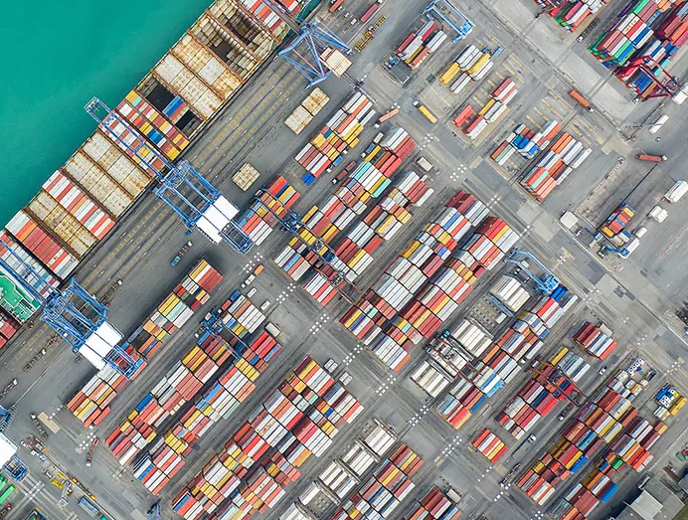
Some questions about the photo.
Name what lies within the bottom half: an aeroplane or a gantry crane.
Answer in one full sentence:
You can see a gantry crane within the bottom half.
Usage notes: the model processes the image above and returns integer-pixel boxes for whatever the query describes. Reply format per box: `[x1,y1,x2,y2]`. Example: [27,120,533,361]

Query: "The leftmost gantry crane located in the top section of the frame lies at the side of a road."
[83,95,255,256]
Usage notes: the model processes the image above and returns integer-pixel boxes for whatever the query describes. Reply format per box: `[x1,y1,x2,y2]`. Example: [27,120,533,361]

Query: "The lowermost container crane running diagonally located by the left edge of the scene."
[0,235,141,380]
